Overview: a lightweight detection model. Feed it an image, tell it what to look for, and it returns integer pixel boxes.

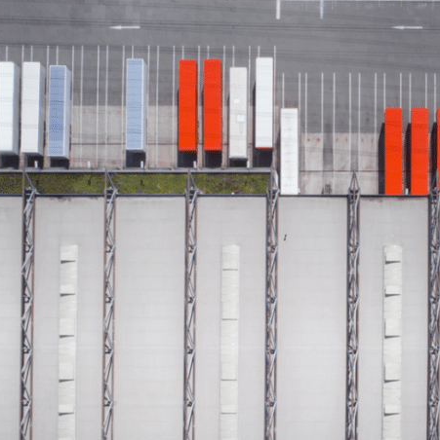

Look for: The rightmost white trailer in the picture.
[280,107,298,193]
